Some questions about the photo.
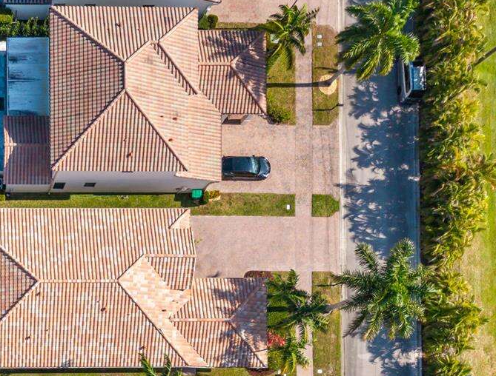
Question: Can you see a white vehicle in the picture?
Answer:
No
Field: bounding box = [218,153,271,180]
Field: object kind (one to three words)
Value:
car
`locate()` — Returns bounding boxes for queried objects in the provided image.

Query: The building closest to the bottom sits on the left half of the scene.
[0,206,269,369]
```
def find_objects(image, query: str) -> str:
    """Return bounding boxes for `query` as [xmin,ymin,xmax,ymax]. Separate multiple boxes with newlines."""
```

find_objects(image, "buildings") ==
[0,206,269,369]
[3,3,268,193]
